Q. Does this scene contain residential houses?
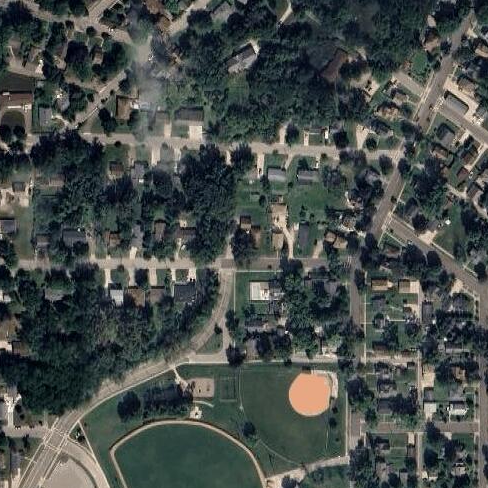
Yes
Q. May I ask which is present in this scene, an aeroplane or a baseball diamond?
baseball diamond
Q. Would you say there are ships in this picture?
No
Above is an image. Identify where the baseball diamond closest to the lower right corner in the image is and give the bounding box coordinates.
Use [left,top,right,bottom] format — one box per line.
[237,366,340,466]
